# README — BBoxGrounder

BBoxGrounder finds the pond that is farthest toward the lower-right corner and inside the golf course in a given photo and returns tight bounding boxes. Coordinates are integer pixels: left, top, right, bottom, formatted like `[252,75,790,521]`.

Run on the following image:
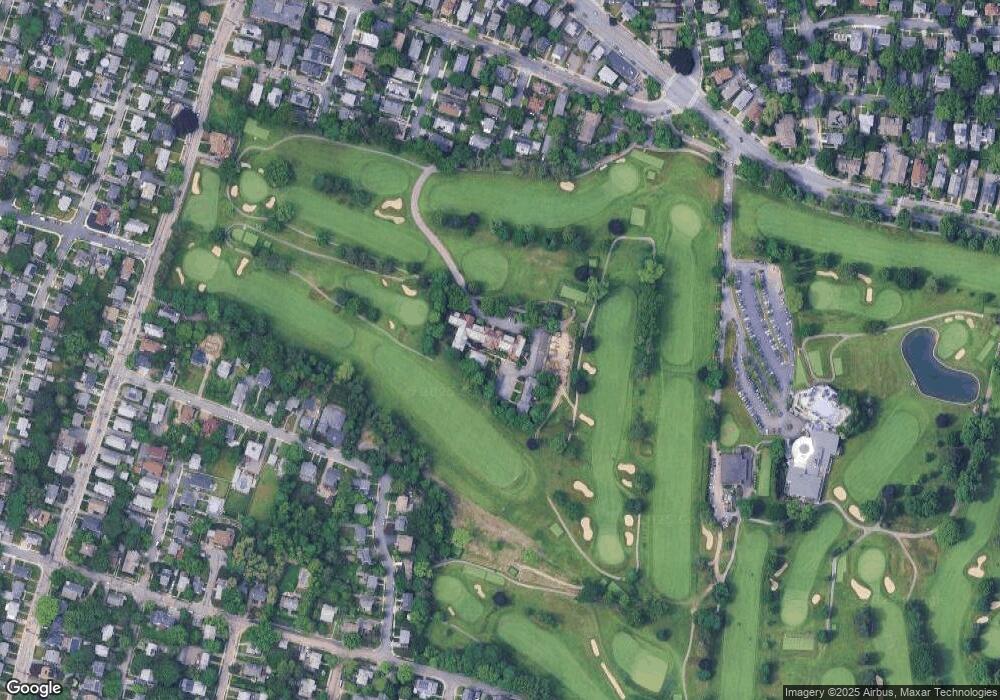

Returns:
[902,327,979,404]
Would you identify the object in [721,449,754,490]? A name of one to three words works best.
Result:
shed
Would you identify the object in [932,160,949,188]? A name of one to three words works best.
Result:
house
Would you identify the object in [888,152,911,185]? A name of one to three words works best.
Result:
building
